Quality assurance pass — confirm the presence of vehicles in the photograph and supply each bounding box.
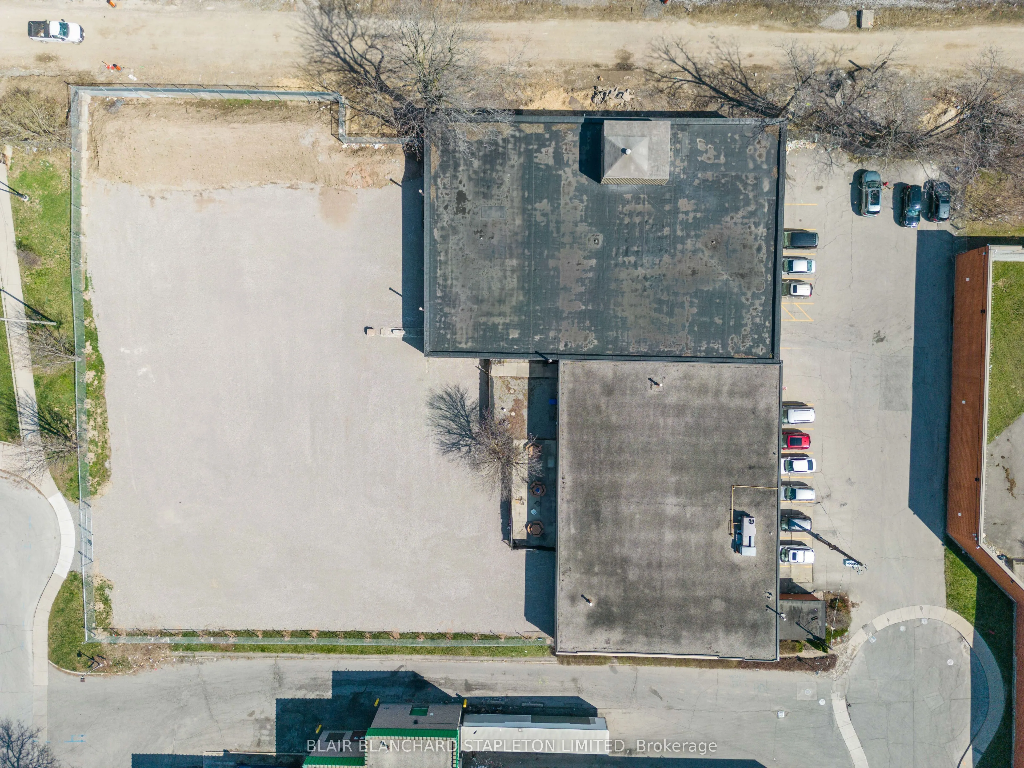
[782,405,817,427]
[784,228,821,252]
[780,543,817,566]
[860,172,885,219]
[900,184,925,230]
[783,256,815,277]
[781,432,811,450]
[782,279,815,301]
[781,513,814,535]
[926,180,953,225]
[781,455,815,477]
[781,483,818,504]
[22,15,81,43]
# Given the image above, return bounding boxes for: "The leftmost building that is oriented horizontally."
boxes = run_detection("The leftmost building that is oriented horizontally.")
[303,704,463,768]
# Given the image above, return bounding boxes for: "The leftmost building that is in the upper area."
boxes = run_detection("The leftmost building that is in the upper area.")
[423,114,788,364]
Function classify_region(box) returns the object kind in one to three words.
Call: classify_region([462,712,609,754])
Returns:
building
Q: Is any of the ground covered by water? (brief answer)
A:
No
